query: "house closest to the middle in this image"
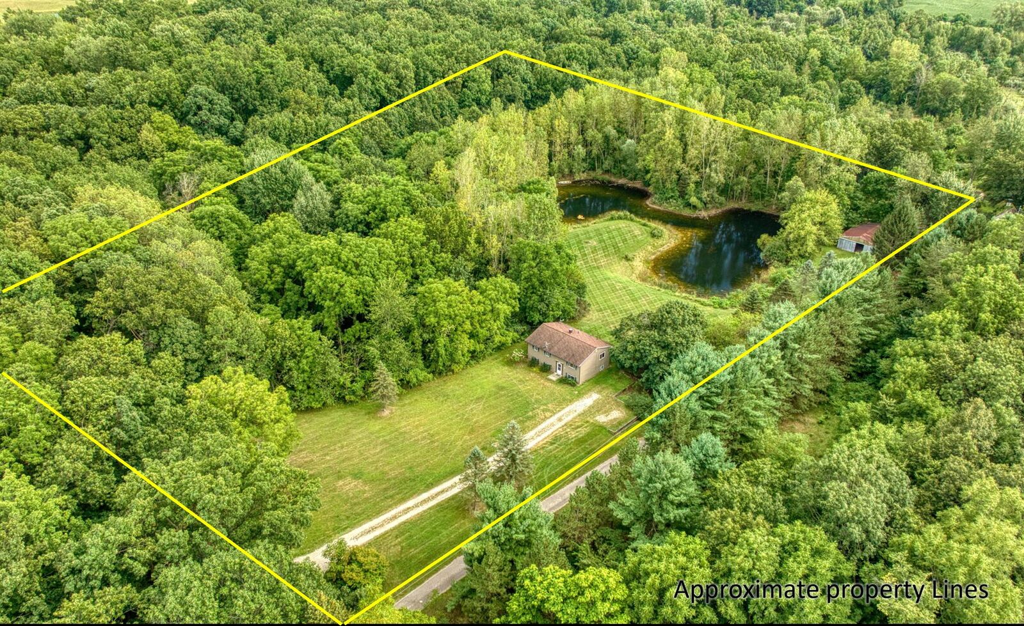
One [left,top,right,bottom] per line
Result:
[527,321,608,384]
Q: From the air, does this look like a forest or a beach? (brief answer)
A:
forest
